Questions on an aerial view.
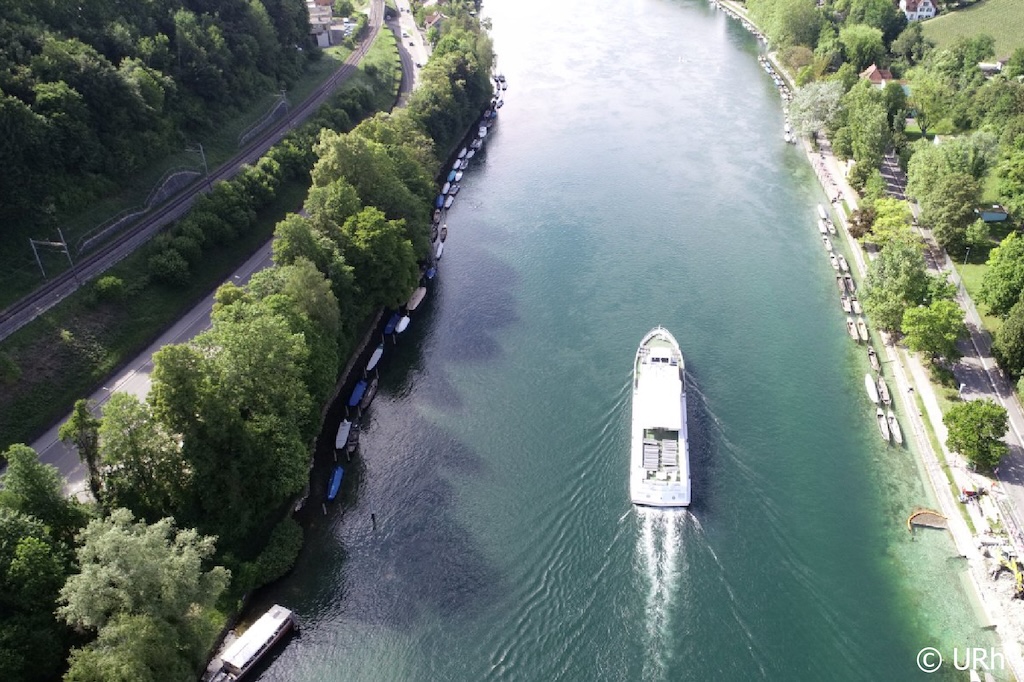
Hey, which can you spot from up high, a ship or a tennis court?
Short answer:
ship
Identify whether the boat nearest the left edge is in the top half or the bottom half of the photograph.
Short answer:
bottom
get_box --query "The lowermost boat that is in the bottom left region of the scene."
[210,604,298,682]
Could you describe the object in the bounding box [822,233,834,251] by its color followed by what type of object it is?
white boat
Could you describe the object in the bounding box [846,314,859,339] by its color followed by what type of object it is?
white boat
